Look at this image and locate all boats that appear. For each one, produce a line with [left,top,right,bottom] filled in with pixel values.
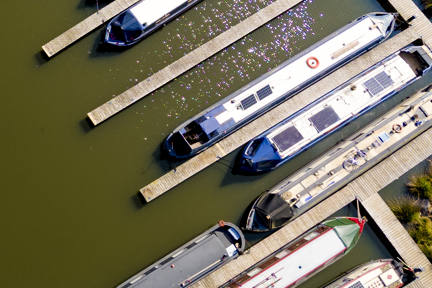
[100,0,199,47]
[234,39,432,172]
[157,13,394,161]
[220,217,365,288]
[115,223,242,288]
[240,82,432,232]
[323,257,419,288]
